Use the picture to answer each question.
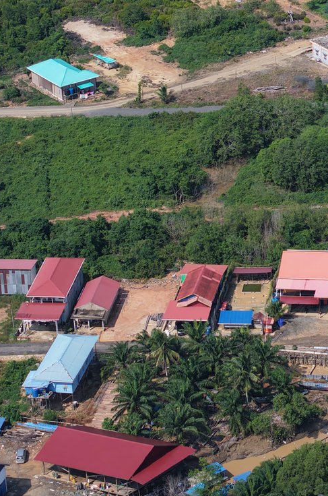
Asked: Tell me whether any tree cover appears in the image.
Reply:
Yes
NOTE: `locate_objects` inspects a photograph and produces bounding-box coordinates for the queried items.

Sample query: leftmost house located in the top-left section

[27,54,96,97]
